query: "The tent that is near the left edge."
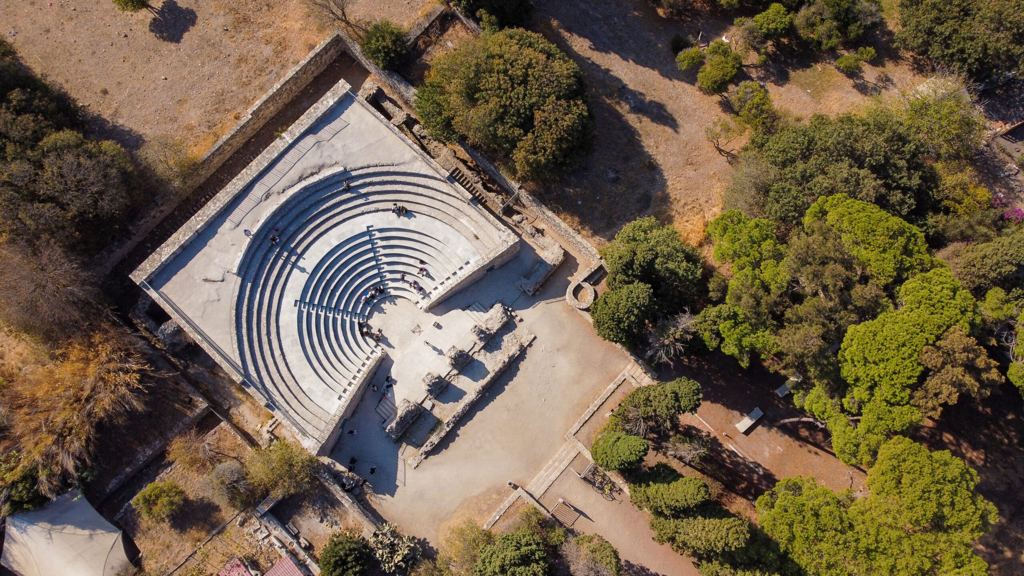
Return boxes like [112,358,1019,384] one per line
[0,488,149,576]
